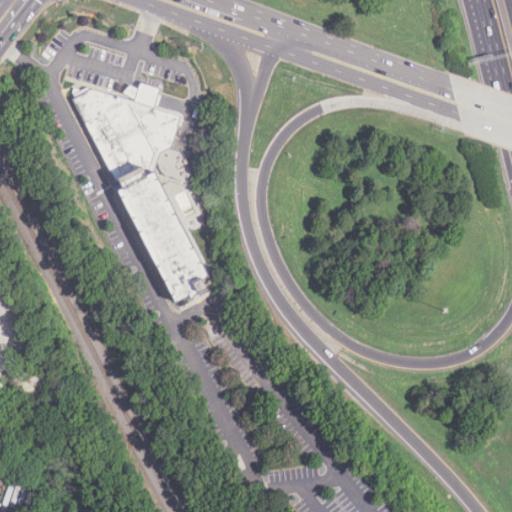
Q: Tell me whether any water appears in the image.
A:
No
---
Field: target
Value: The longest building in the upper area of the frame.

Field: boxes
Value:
[72,82,208,302]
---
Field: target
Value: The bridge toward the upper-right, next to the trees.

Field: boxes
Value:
[449,72,512,150]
